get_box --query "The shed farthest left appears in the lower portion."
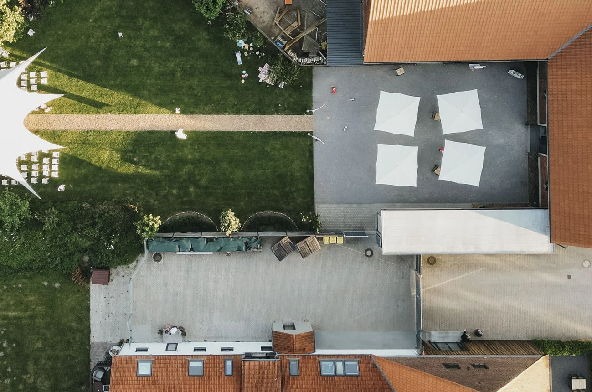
[91,266,111,284]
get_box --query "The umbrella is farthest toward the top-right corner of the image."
[436,89,483,135]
